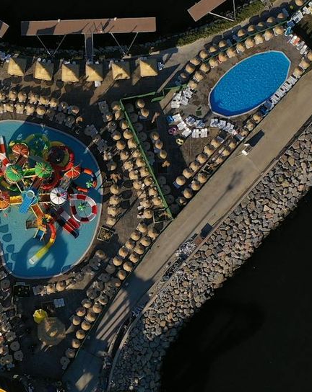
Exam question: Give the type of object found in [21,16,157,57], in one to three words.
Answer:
pier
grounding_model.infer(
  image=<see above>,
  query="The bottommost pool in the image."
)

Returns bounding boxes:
[0,120,103,277]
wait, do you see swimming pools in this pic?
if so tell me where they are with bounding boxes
[206,47,295,120]
[0,120,103,277]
